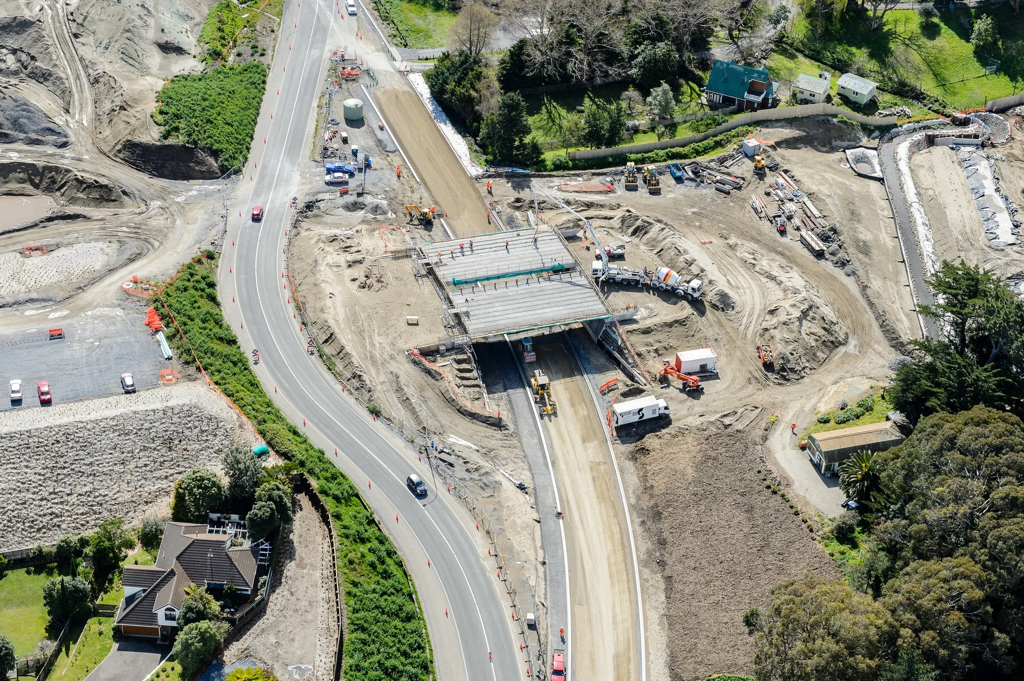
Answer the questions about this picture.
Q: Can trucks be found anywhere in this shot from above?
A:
Yes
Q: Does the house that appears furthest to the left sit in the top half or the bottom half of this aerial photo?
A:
bottom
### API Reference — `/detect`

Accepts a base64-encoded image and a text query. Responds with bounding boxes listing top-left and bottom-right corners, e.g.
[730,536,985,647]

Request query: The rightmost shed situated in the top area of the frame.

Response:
[836,70,892,108]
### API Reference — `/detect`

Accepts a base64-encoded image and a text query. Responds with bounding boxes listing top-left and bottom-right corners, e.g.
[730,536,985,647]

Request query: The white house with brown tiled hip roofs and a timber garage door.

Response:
[115,522,261,640]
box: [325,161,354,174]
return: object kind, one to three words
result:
vehicle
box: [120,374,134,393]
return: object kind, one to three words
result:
car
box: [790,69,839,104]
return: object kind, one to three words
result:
shed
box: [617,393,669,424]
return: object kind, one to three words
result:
truck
